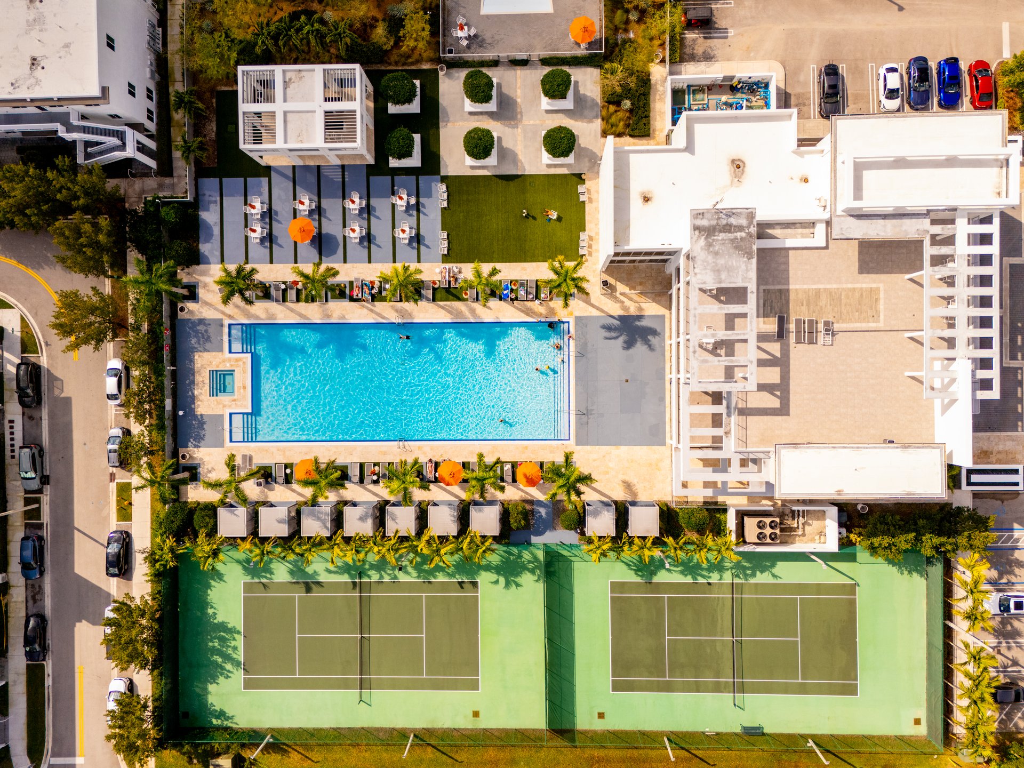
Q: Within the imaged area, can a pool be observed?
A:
Yes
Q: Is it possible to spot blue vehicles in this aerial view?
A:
Yes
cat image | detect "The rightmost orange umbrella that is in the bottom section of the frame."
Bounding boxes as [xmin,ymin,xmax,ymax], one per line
[515,460,542,488]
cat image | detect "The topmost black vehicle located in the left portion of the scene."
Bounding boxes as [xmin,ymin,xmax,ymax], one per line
[15,363,42,407]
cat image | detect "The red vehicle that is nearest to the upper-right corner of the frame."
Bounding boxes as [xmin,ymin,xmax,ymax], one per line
[966,60,994,111]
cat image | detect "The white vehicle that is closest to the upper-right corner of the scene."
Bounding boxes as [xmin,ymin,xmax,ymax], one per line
[876,63,903,113]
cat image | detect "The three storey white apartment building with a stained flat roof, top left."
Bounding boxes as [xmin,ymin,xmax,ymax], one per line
[0,0,161,169]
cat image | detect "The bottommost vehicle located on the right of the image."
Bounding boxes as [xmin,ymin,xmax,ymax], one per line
[989,682,1024,705]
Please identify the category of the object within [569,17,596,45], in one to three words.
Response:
umbrella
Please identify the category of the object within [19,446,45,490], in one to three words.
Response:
car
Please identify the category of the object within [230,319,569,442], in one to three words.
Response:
swimming pool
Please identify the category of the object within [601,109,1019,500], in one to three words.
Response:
building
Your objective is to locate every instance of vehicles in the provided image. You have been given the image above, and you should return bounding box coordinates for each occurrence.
[106,676,132,724]
[103,359,128,404]
[105,427,130,468]
[876,63,903,113]
[23,613,48,661]
[19,446,45,490]
[15,363,42,407]
[989,682,1024,705]
[105,530,130,577]
[966,60,994,111]
[20,535,45,578]
[683,3,711,26]
[905,56,933,110]
[818,59,844,118]
[935,57,963,109]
